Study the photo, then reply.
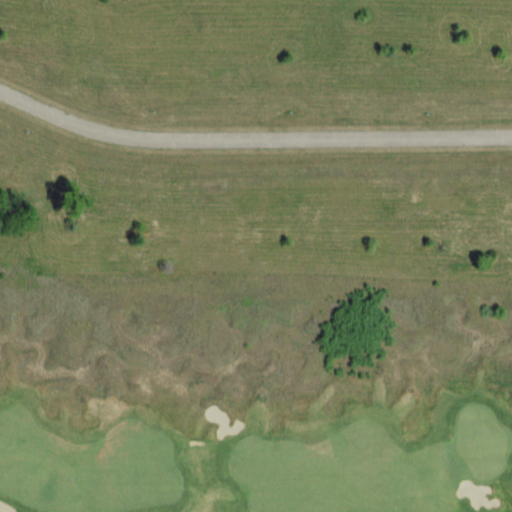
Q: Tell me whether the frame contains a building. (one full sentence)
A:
No, there is no building in the image.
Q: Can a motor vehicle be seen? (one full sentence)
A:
No, I can't see a single motor vehicle in this photo.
